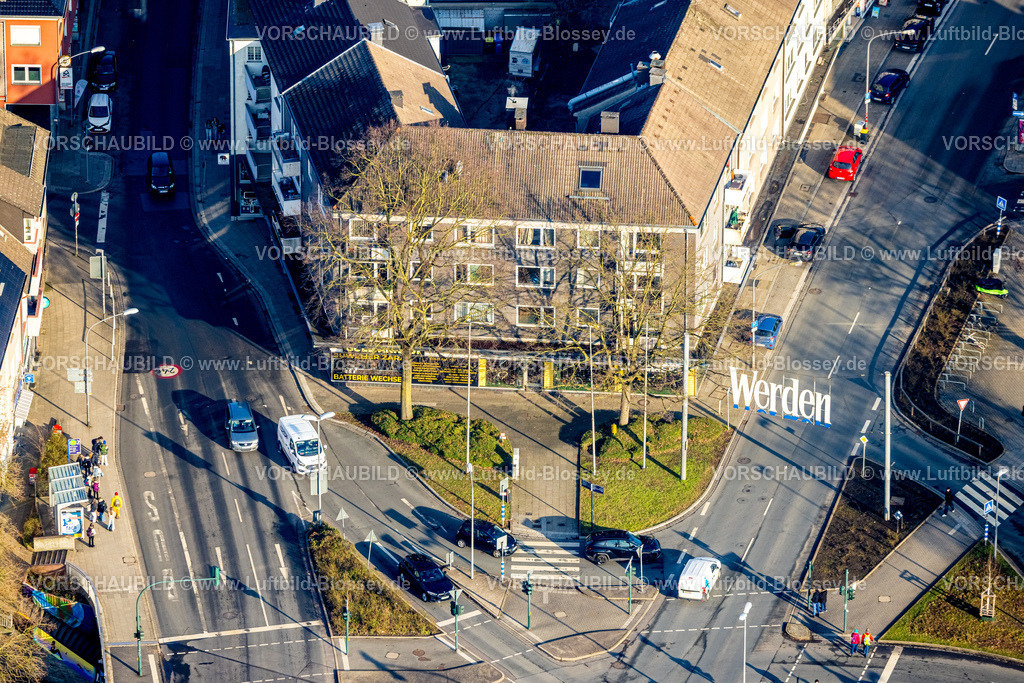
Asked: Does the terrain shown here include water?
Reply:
No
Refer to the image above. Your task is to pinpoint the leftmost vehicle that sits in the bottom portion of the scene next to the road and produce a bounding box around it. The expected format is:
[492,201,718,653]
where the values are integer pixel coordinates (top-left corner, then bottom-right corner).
[225,392,263,450]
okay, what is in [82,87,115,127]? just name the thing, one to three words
car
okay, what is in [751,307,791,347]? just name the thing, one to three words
car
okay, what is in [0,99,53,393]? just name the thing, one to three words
house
